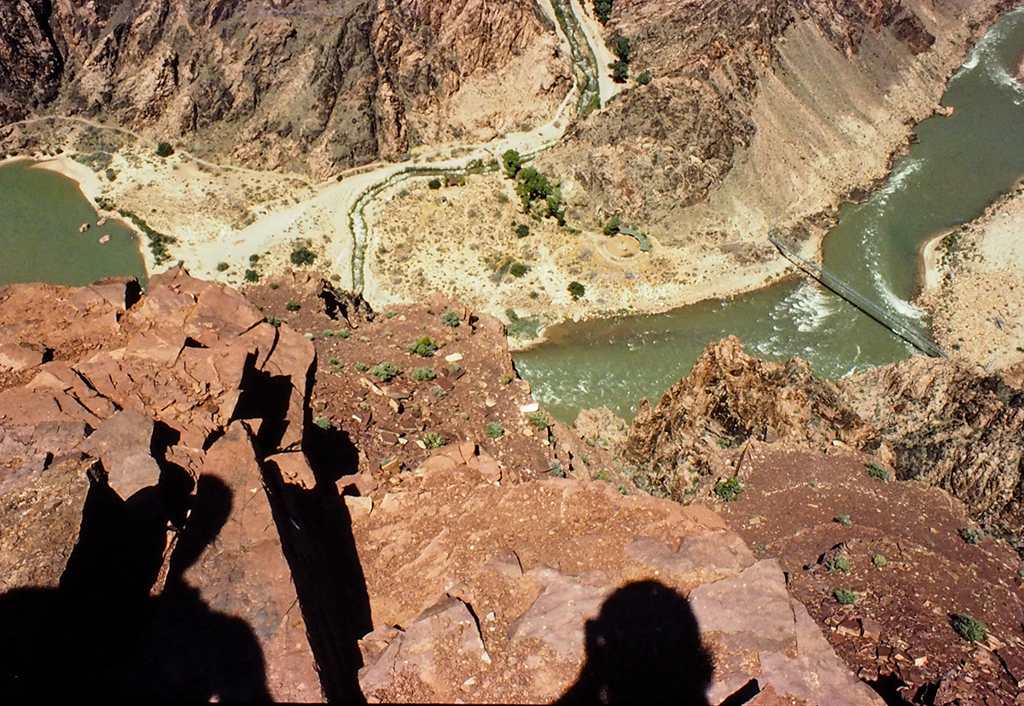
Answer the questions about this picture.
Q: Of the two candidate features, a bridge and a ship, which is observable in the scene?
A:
bridge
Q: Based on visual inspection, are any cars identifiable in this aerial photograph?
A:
No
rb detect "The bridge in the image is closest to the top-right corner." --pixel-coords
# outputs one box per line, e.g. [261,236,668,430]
[750,220,967,360]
